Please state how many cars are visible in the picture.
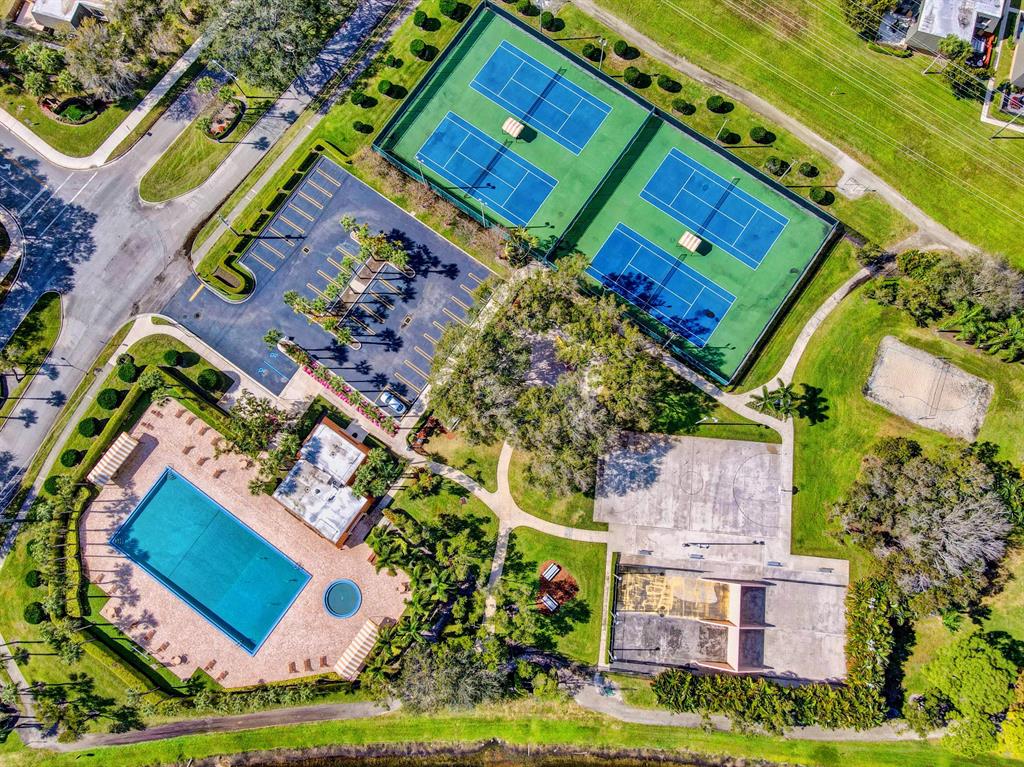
1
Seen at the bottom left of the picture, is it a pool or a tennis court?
pool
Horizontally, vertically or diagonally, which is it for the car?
diagonally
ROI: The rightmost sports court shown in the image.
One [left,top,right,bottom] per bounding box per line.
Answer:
[869,346,983,428]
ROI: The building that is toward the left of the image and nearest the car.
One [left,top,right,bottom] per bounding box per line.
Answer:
[272,418,373,548]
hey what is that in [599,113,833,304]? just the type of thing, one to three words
tennis court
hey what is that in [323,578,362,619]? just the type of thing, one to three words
swimming pool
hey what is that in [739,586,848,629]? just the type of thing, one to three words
sports court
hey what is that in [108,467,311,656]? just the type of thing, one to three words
swimming pool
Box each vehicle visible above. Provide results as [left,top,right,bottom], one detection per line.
[380,392,407,415]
